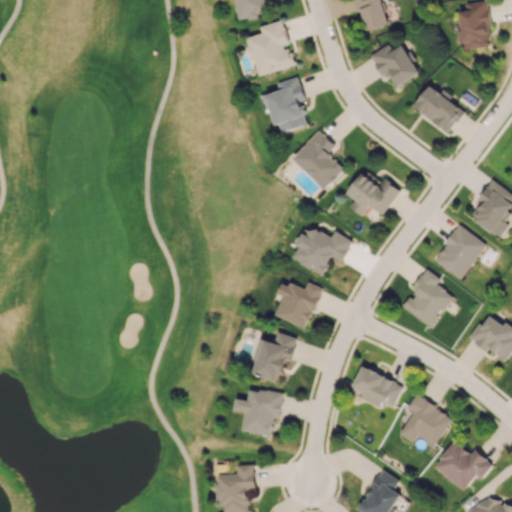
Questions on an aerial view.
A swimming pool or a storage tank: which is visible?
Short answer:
swimming pool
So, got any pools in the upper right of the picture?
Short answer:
Yes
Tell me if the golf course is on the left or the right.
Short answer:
left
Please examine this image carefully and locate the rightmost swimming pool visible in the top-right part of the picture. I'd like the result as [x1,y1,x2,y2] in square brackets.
[460,88,482,112]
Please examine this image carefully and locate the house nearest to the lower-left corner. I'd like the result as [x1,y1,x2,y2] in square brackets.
[216,462,256,512]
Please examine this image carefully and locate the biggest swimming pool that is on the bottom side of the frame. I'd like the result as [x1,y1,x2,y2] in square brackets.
[233,328,262,368]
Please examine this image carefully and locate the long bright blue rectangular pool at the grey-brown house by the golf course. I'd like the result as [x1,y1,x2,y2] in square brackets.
[274,154,322,201]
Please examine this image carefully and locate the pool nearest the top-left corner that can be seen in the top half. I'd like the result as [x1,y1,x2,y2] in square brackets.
[238,50,258,78]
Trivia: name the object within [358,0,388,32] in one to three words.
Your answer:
house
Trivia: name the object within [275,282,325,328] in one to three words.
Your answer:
house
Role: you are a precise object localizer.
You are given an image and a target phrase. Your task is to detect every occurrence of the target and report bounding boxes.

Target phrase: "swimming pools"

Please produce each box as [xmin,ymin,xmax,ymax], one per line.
[233,328,262,368]
[460,88,482,112]
[238,50,258,78]
[274,154,322,201]
[415,438,428,452]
